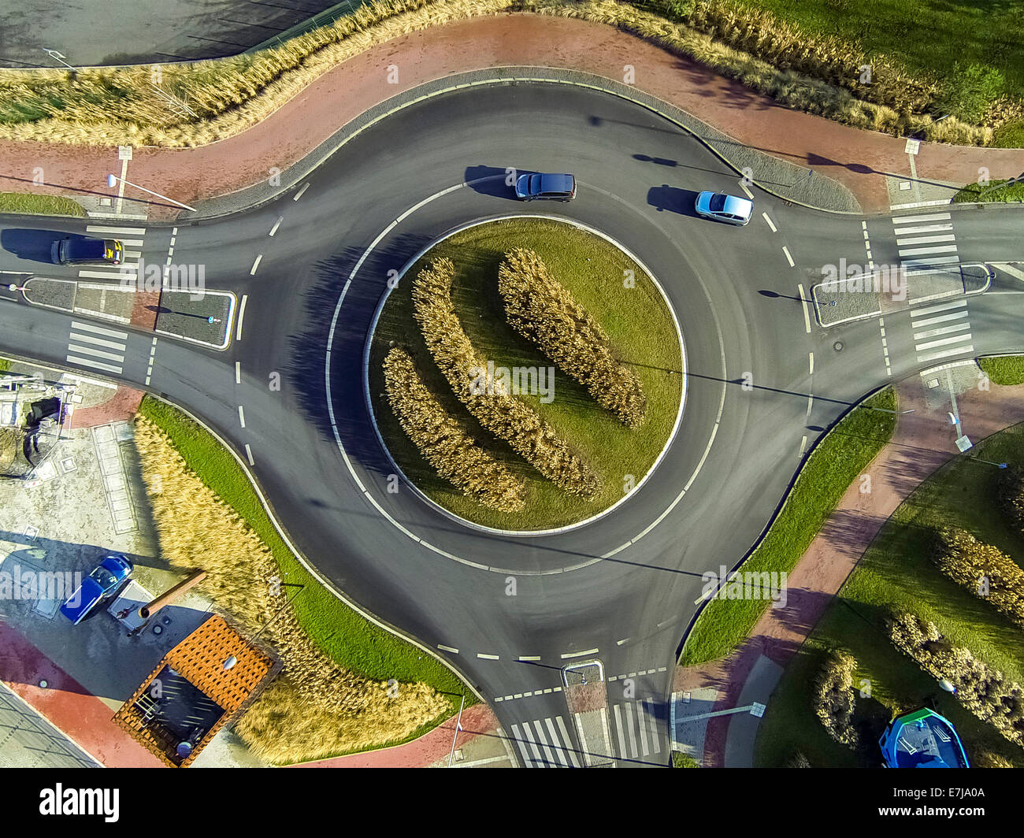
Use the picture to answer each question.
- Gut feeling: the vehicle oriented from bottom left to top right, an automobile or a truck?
automobile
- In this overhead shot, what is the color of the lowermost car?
blue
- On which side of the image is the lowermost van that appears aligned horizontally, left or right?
left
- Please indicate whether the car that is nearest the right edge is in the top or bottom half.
top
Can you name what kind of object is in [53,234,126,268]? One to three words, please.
van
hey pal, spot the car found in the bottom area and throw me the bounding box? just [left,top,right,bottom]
[63,553,137,621]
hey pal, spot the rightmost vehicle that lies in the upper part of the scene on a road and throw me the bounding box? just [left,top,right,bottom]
[697,189,759,225]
